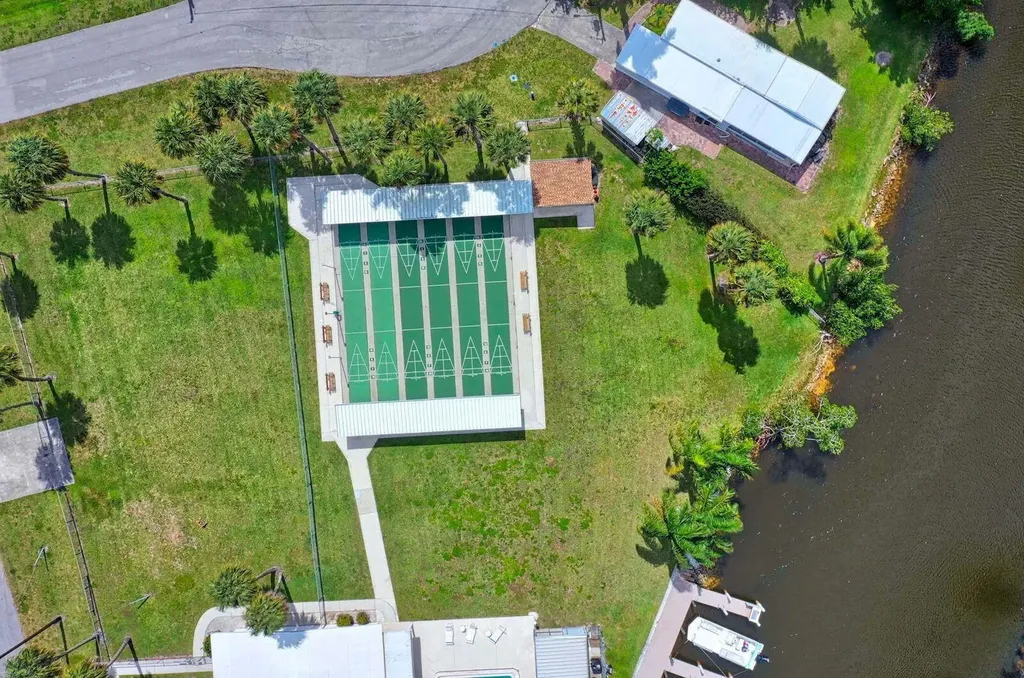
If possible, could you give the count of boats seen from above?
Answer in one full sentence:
The count comes to 1 boat.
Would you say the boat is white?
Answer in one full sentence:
Yes, the boat appears white.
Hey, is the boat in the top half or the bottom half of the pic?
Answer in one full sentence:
It is in the bottom half that the boat appears.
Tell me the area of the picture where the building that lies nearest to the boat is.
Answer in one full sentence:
Look in the bottom portion of the view to spot the building that lies nearest to the boat.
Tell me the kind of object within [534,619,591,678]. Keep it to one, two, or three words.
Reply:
building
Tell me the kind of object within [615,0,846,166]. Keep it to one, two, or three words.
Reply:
house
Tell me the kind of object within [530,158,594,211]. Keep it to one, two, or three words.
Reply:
shed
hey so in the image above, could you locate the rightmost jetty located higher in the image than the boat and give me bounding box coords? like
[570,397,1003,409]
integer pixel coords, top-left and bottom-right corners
[694,584,757,617]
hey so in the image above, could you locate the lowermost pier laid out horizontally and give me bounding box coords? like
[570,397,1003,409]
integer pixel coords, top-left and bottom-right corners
[665,657,727,678]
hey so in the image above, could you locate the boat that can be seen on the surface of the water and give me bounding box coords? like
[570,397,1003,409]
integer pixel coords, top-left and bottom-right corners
[686,618,764,668]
